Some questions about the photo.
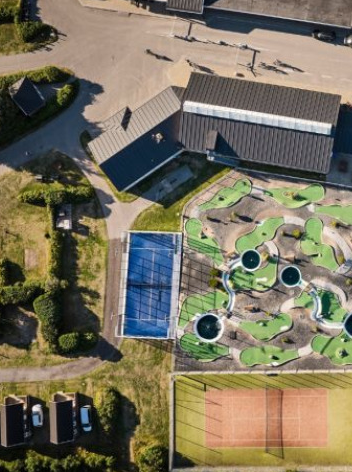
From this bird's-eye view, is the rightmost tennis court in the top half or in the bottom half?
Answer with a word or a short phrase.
bottom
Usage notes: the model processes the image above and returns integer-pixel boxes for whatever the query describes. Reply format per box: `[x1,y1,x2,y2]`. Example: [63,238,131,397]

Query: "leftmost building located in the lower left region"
[0,391,35,448]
